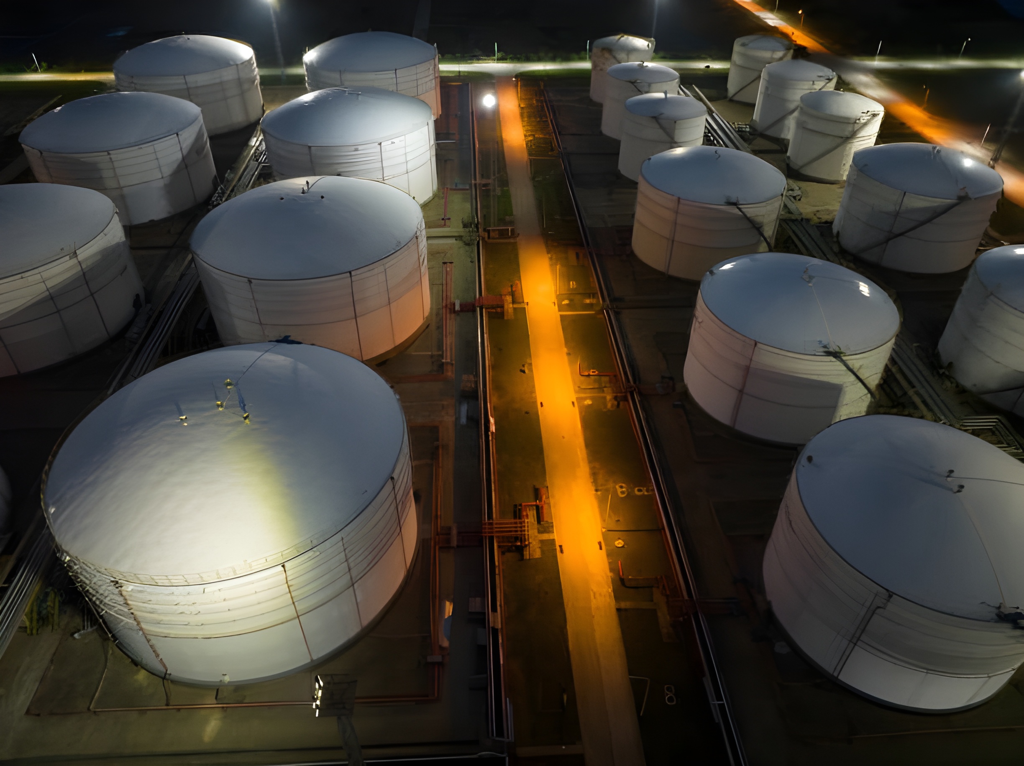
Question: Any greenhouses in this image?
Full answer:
No, I can't see a single greenhouse in this photo.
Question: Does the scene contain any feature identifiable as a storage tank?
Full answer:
Yes, there's a storage tank here.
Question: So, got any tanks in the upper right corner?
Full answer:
Yes, I can see a tank in the upper right corner.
